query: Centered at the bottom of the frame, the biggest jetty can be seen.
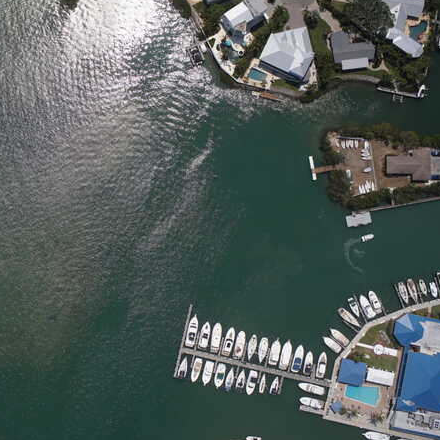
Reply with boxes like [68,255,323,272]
[173,304,331,395]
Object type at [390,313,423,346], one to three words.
building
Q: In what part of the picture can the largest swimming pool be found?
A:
bottom right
